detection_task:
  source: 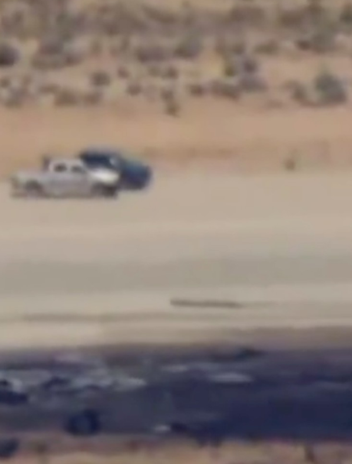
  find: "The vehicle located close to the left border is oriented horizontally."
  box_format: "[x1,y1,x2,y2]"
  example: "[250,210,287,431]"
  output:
[8,157,121,197]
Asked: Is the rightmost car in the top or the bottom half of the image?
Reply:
top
